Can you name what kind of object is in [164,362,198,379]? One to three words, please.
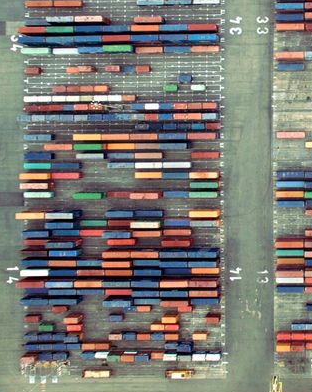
work vehicle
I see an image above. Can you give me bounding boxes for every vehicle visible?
[84,362,119,379]
[164,362,198,379]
